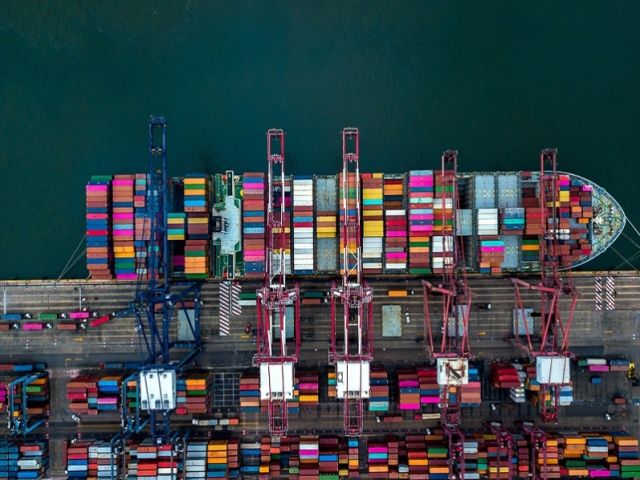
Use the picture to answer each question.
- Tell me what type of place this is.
port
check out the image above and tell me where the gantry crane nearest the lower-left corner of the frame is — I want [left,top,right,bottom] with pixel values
[8,370,49,434]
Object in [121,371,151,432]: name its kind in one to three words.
container crane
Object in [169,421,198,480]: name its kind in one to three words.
container crane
